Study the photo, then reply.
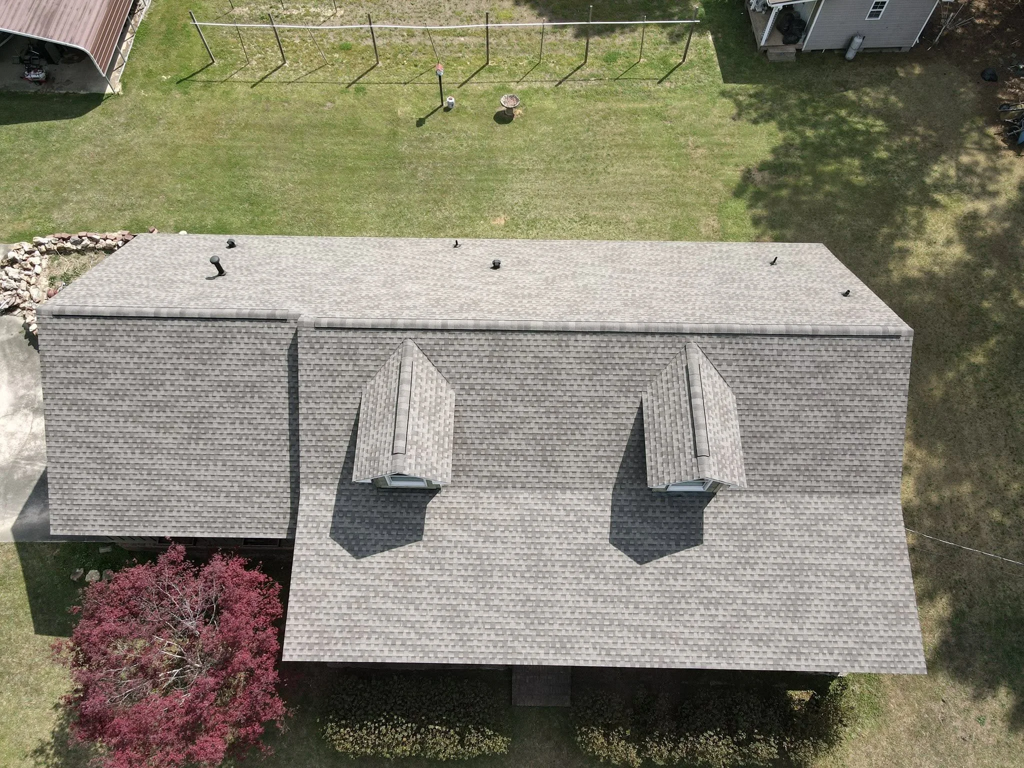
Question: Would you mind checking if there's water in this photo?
No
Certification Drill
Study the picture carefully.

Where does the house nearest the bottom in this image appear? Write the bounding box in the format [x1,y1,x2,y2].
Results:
[37,234,927,708]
